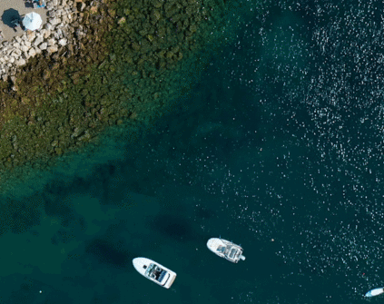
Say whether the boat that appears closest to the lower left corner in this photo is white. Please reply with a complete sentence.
Yes, the boat that appears closest to the lower left corner is indeed white.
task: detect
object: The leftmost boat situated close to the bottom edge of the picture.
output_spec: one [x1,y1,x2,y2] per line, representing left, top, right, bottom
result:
[132,256,180,292]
